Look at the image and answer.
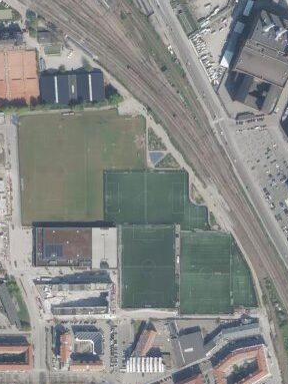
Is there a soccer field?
Yes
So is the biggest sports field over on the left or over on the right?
left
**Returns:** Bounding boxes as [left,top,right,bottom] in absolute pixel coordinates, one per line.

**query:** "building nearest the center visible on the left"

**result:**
[92,227,118,268]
